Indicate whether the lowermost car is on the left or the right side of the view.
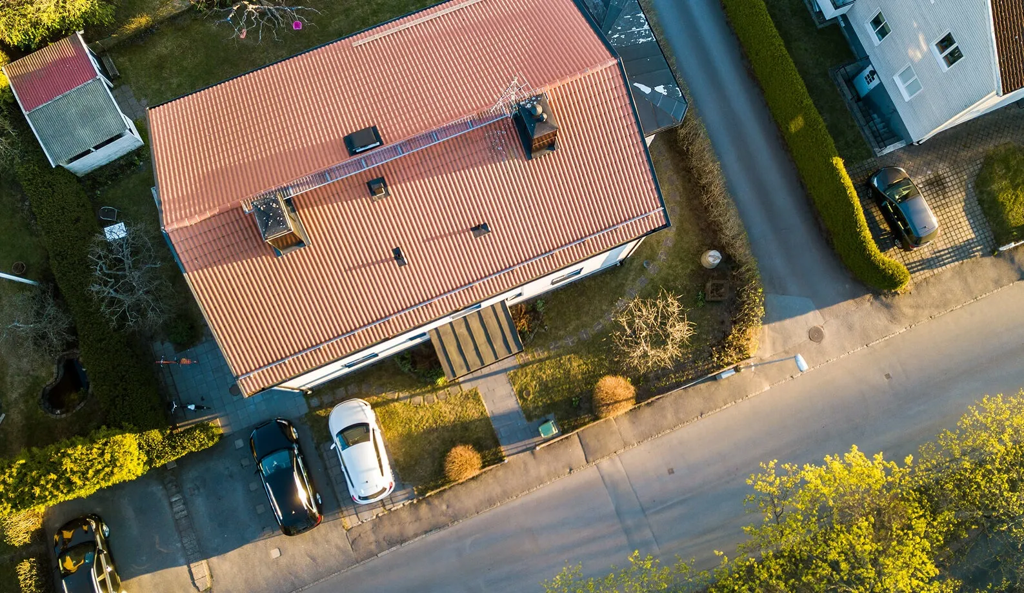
left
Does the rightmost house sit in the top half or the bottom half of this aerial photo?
top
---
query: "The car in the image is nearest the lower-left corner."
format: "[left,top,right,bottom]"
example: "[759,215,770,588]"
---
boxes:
[47,512,134,593]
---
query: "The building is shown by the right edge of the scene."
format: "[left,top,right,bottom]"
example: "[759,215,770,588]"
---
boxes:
[812,0,1024,148]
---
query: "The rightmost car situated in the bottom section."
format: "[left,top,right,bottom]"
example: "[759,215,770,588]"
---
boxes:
[326,396,400,508]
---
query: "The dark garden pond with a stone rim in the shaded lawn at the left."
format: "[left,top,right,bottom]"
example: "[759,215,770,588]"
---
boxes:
[37,352,93,420]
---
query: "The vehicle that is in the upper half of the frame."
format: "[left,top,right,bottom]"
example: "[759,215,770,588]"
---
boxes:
[865,162,946,253]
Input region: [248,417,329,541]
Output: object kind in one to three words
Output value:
car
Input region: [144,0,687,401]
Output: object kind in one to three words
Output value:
house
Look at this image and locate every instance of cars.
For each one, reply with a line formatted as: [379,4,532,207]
[47,512,134,593]
[326,396,400,508]
[865,162,946,253]
[248,417,329,541]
